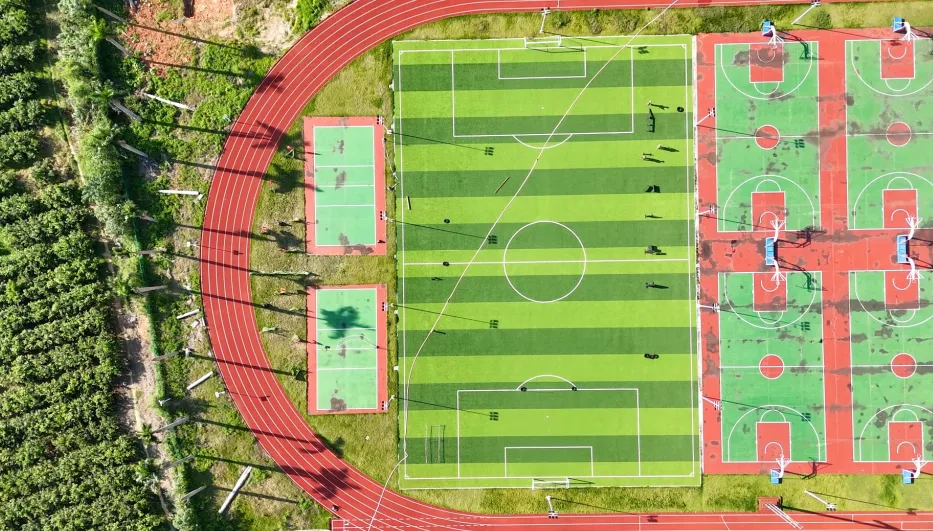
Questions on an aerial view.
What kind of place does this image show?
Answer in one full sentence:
It's a sports ground.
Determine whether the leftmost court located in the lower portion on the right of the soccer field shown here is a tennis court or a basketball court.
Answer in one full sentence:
I'd identify the leftmost court located in the lower portion on the right of the soccer field as a basketball court.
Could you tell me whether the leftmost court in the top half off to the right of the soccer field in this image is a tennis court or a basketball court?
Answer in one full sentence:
Specifically, the leftmost court in the top half off to the right of the soccer field is a basketball court.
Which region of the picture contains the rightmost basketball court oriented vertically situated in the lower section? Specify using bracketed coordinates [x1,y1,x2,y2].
[846,267,933,463]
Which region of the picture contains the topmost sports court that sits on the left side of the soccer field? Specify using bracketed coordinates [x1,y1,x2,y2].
[305,117,384,254]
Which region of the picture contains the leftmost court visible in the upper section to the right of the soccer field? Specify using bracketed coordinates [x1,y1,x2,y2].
[714,40,824,233]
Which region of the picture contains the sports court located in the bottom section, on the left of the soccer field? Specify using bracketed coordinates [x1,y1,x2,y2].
[308,286,386,414]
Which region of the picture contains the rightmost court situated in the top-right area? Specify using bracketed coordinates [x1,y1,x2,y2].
[842,36,933,230]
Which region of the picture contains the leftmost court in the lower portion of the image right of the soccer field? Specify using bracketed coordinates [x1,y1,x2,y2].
[718,269,828,464]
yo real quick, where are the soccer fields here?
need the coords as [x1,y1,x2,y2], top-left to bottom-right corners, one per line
[394,35,701,488]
